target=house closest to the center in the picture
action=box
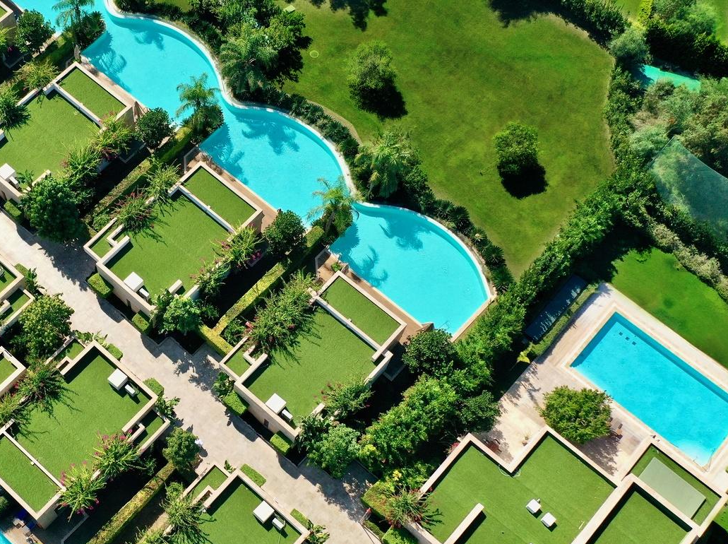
[222,272,407,448]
